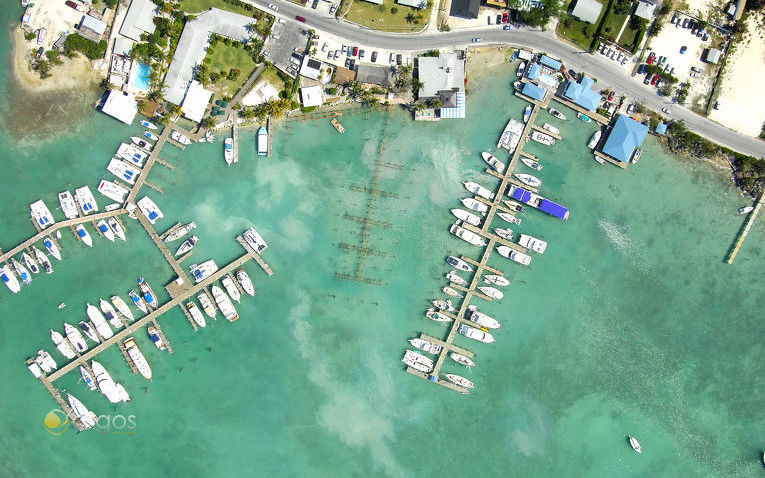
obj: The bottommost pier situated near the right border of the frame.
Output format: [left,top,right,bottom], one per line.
[725,188,765,263]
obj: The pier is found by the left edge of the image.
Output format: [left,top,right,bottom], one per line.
[0,120,273,431]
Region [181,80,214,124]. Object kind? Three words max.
building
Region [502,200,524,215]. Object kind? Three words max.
boat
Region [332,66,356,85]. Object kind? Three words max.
house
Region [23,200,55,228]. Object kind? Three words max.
boat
